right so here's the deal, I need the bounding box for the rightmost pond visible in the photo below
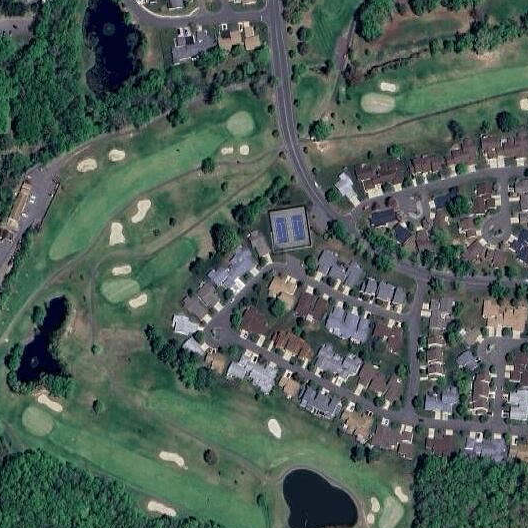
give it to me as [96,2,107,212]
[283,468,358,528]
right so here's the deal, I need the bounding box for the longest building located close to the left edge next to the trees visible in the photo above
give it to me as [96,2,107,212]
[10,185,30,222]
